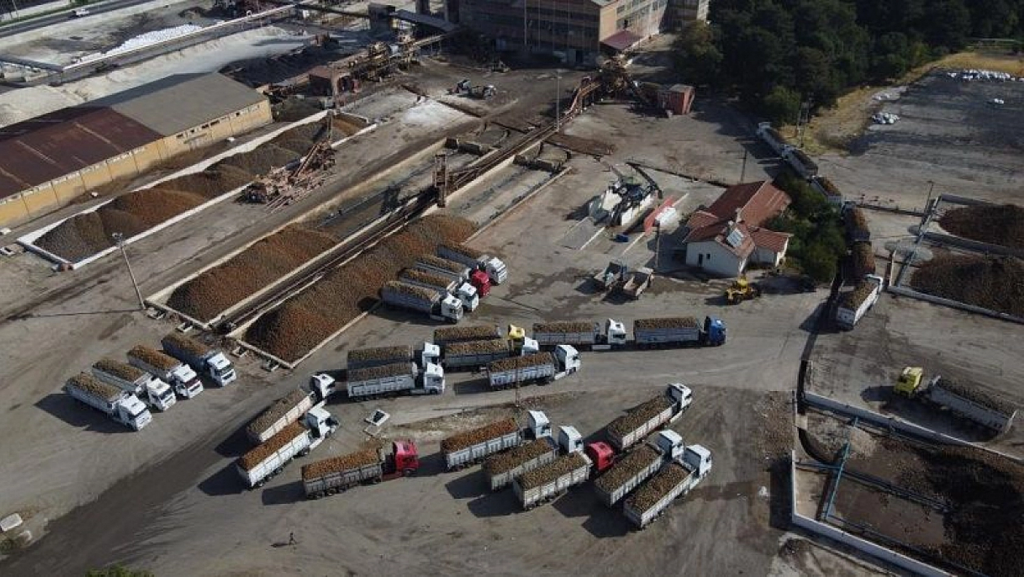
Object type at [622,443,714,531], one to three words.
truck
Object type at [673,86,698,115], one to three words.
shed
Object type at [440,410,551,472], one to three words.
truck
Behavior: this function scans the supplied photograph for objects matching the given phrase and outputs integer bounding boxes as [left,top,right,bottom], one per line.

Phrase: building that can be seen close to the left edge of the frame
[0,75,264,227]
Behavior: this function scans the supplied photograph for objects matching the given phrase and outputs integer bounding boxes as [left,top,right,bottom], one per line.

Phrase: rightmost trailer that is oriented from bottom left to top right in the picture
[837,275,876,324]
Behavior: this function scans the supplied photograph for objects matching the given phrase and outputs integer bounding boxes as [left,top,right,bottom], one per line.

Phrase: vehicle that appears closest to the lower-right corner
[895,373,1015,436]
